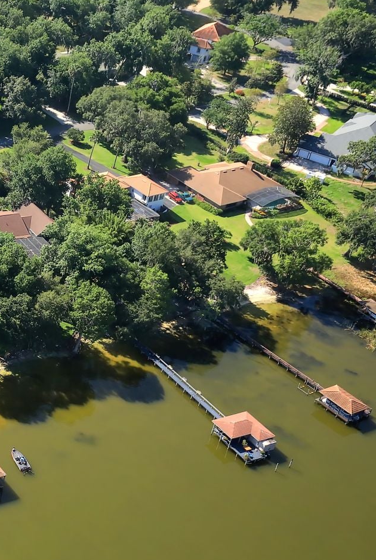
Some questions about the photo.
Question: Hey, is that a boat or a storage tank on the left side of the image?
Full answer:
What appears on the left side of the image is a boat.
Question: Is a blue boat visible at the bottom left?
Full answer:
No, at the bottom left there is no blue boat.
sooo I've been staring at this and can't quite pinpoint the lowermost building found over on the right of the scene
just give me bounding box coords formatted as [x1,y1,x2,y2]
[210,410,278,465]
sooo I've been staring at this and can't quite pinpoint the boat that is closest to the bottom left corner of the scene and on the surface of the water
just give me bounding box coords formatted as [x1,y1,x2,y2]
[10,439,35,472]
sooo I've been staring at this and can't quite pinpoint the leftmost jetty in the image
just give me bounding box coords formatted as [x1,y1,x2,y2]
[138,342,229,419]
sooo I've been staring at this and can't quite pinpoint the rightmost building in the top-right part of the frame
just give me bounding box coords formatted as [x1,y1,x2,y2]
[297,113,376,172]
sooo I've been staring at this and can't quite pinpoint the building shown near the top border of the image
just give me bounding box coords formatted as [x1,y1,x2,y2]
[190,23,238,64]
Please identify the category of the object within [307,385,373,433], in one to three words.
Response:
building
